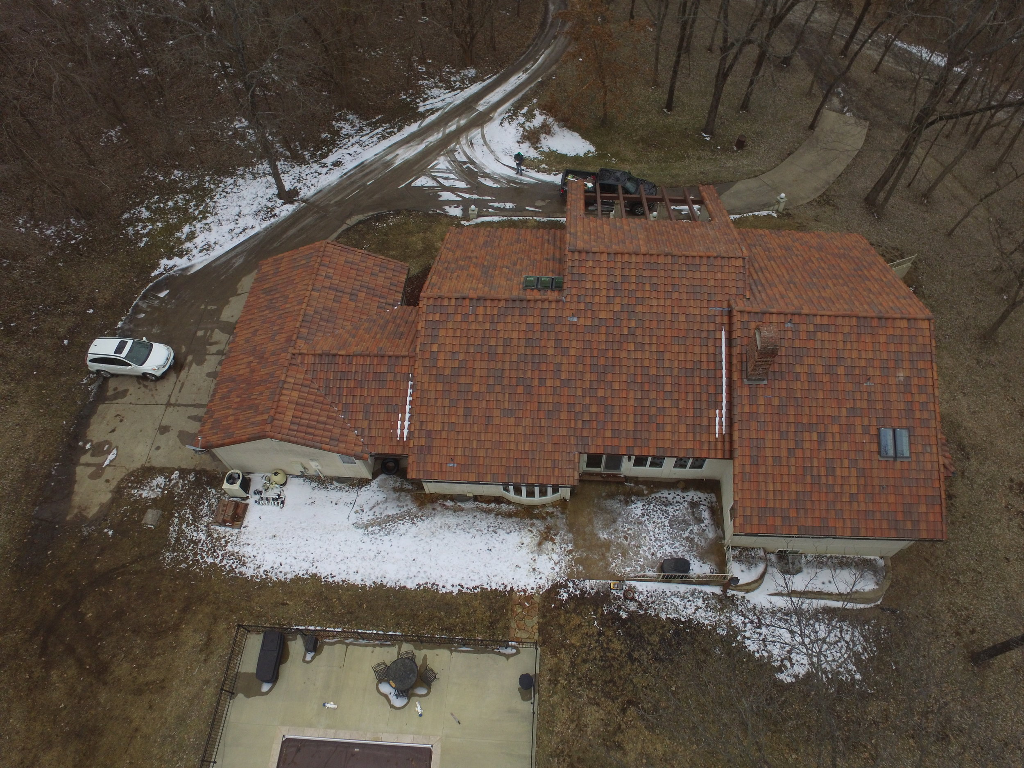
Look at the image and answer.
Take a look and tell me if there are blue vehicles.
No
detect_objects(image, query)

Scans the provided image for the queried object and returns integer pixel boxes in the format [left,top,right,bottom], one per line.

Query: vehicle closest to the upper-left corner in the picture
[81,337,175,383]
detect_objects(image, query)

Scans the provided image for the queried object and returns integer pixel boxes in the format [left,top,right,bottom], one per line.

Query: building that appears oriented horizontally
[193,180,951,557]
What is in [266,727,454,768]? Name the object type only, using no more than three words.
swimming pool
